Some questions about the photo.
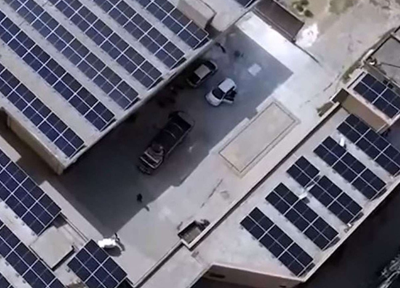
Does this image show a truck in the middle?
Yes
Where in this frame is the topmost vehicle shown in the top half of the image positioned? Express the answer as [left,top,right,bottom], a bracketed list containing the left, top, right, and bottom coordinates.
[193,62,234,94]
